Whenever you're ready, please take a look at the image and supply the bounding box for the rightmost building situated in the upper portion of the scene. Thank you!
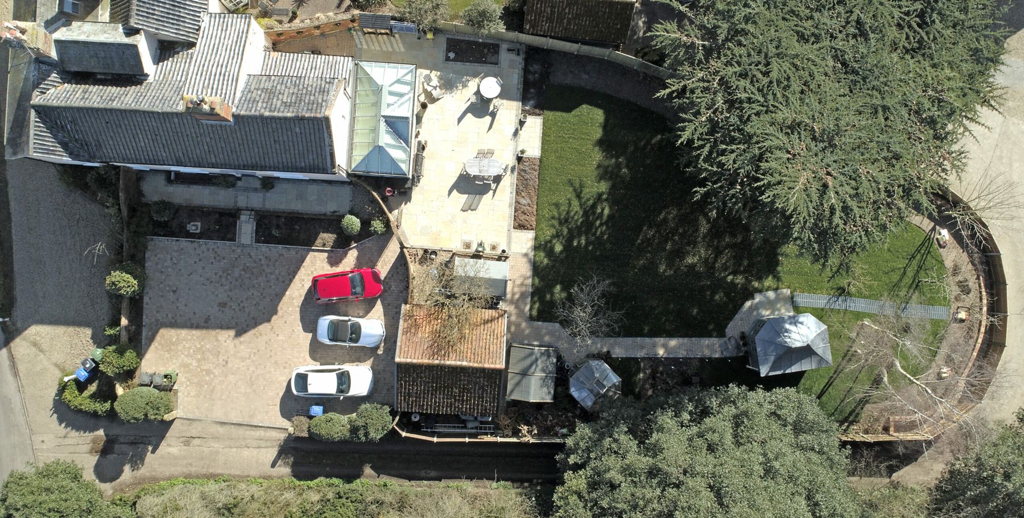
[523,0,634,49]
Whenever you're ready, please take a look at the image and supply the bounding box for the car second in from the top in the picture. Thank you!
[314,312,387,351]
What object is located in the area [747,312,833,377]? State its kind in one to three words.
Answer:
house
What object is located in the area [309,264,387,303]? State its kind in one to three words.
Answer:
car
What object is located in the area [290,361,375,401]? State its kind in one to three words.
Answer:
car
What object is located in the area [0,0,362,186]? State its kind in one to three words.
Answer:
house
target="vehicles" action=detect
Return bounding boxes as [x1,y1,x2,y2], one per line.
[290,361,375,401]
[309,264,387,303]
[314,312,387,351]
